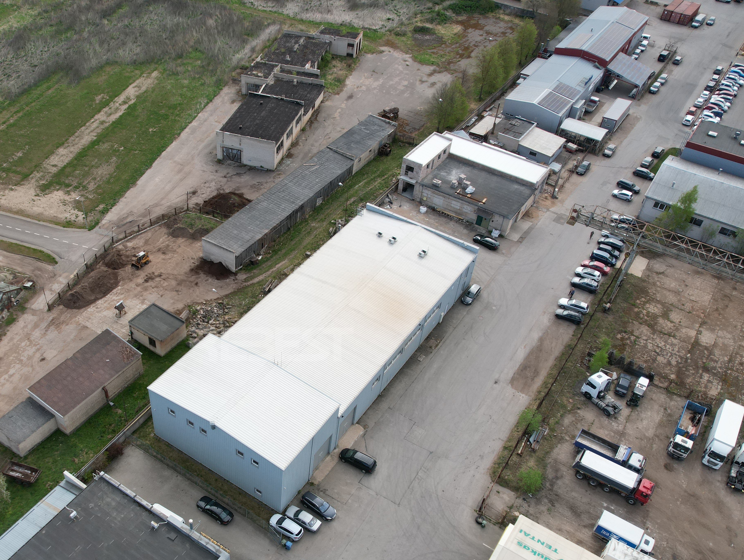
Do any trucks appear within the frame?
Yes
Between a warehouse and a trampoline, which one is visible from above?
warehouse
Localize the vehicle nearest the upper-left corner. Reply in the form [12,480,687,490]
[130,250,151,272]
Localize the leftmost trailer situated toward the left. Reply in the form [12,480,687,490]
[0,458,42,485]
